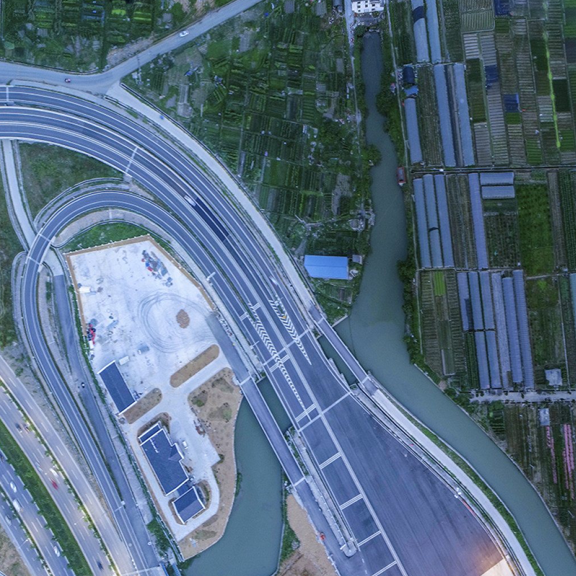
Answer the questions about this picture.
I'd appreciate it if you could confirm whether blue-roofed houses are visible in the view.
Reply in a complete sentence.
Yes, there is a blue-roofed house in the image.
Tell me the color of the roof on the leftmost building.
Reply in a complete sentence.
The roof of the leftmost building is blue.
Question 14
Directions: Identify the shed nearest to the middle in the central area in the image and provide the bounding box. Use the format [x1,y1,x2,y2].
[300,254,351,279]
